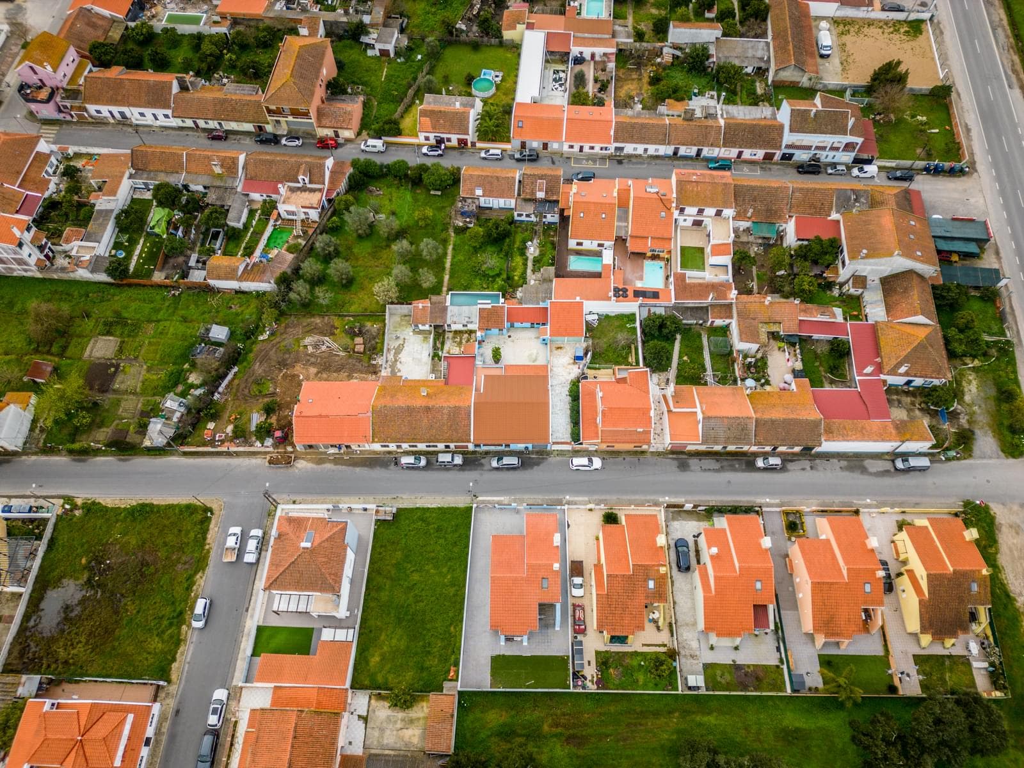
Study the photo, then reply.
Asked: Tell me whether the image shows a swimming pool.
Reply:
Yes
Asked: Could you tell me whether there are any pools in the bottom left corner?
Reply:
No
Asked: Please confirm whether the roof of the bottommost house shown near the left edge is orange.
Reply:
Yes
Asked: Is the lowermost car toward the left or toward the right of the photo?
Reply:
left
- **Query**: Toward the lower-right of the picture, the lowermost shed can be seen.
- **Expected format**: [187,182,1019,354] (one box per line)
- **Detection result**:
[790,671,814,693]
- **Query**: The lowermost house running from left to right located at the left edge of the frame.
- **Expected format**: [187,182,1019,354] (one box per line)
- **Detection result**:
[5,699,162,768]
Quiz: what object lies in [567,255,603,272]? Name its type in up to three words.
swimming pool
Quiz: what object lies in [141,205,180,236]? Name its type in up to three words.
gazebo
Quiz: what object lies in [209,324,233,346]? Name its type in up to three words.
shed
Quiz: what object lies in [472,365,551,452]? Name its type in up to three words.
building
